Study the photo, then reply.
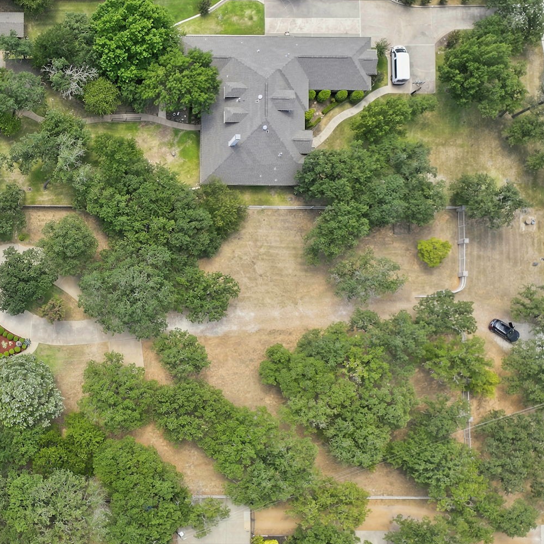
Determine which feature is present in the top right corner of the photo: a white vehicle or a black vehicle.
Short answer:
white vehicle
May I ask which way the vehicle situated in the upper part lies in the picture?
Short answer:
up and down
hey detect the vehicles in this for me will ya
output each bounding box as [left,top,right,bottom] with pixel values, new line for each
[485,318,522,341]
[390,44,412,87]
